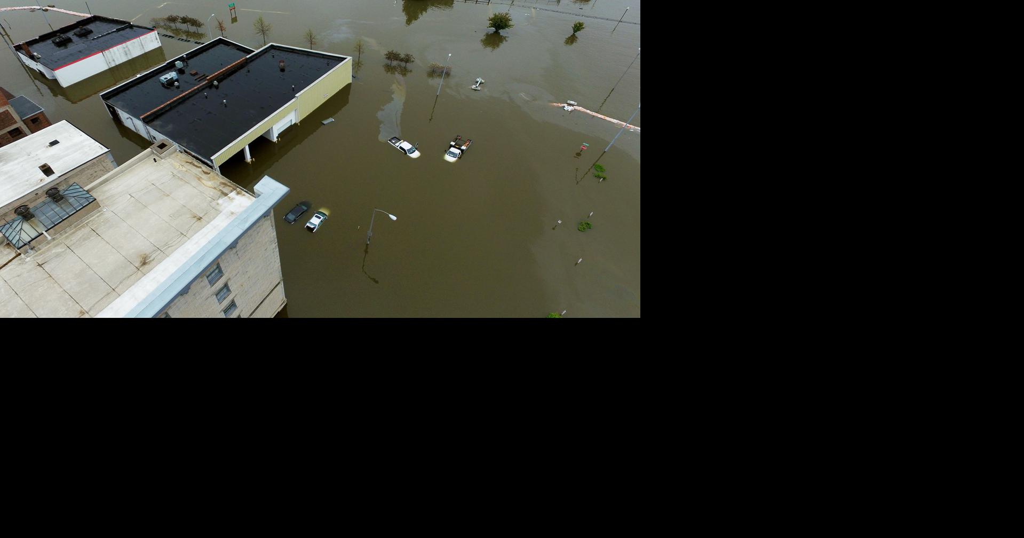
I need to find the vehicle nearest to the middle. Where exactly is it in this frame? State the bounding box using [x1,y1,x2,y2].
[447,136,474,162]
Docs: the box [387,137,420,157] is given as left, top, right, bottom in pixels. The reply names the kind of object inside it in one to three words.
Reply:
vehicle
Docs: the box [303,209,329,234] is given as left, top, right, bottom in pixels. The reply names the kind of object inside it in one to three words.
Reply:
car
